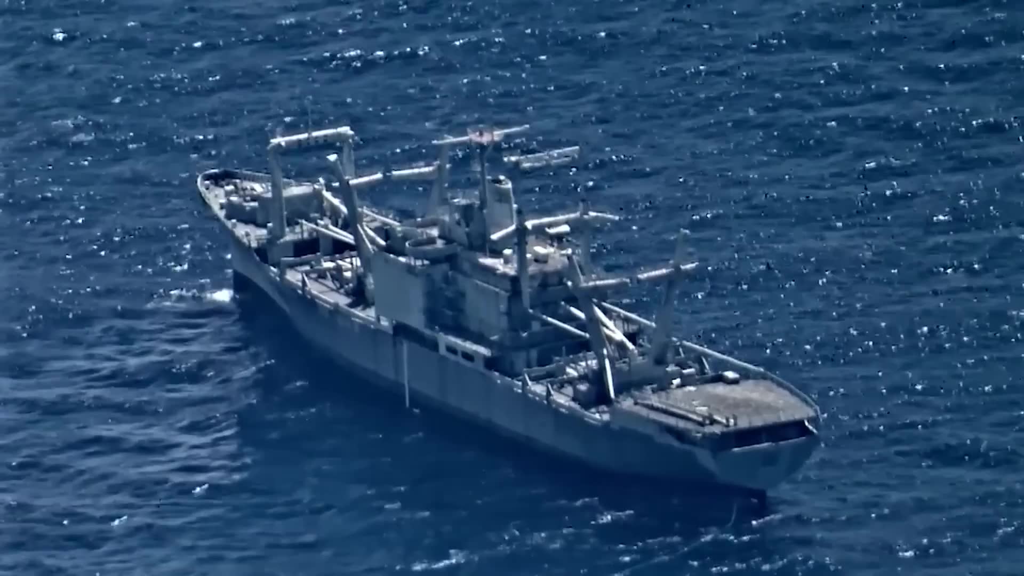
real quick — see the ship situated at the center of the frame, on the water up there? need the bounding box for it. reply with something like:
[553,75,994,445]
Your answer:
[196,98,834,489]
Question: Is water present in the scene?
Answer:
Yes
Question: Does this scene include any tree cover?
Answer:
No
